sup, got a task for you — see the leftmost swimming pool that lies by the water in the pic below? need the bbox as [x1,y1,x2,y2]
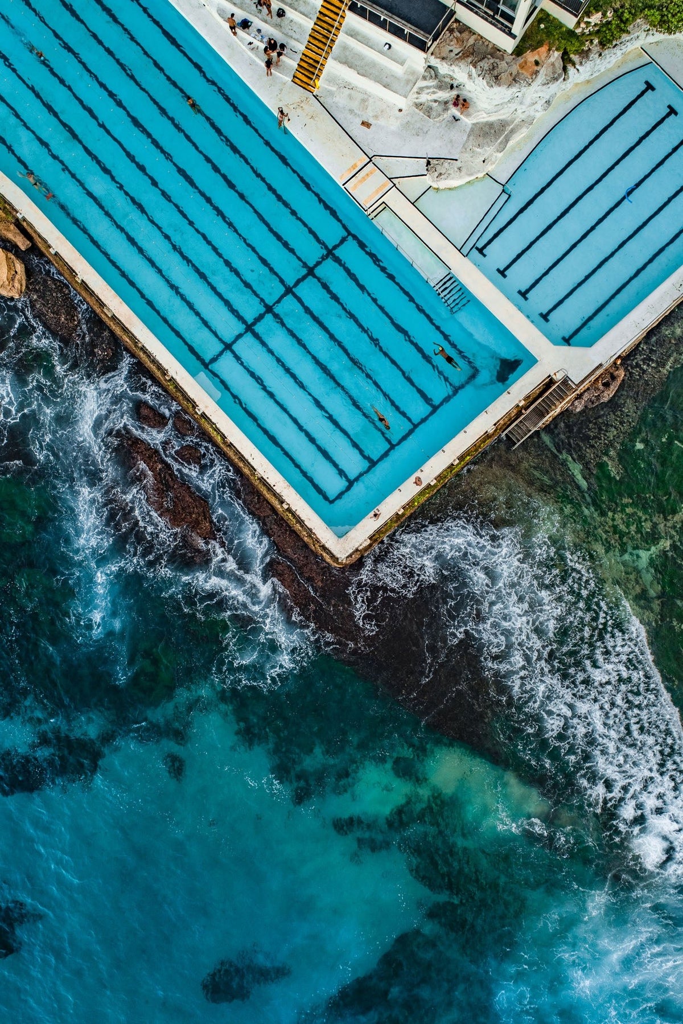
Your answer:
[0,0,538,538]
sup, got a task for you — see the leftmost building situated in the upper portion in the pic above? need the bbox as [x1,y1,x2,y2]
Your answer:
[449,0,542,55]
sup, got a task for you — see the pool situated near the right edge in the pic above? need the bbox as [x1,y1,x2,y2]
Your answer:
[415,64,683,347]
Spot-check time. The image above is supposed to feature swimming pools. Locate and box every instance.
[415,64,683,347]
[0,0,538,538]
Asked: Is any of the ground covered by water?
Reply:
Yes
